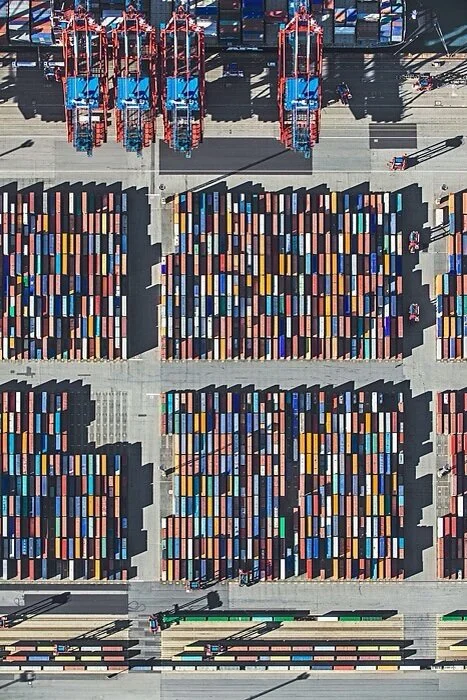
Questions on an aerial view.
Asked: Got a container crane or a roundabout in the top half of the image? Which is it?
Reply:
container crane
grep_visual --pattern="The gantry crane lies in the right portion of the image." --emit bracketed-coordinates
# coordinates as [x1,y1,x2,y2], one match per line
[272,0,324,163]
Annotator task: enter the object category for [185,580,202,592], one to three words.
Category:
vehicle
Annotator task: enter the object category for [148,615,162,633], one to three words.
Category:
vehicle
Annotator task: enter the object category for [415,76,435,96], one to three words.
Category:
work vehicle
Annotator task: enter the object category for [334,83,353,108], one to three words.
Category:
work vehicle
